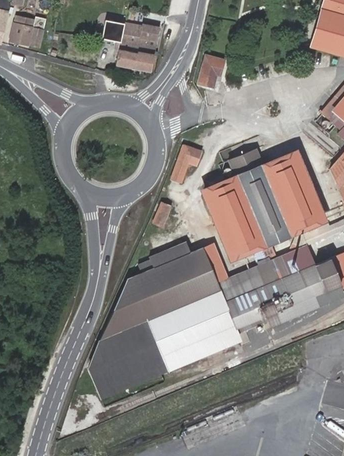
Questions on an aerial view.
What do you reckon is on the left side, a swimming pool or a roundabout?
roundabout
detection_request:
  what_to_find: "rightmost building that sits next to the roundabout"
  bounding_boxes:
[203,150,328,262]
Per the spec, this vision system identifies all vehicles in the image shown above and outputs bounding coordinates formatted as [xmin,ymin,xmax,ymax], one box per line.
[105,256,110,266]
[102,48,108,60]
[316,54,322,65]
[10,55,25,64]
[316,414,344,437]
[86,312,93,323]
[166,28,172,39]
